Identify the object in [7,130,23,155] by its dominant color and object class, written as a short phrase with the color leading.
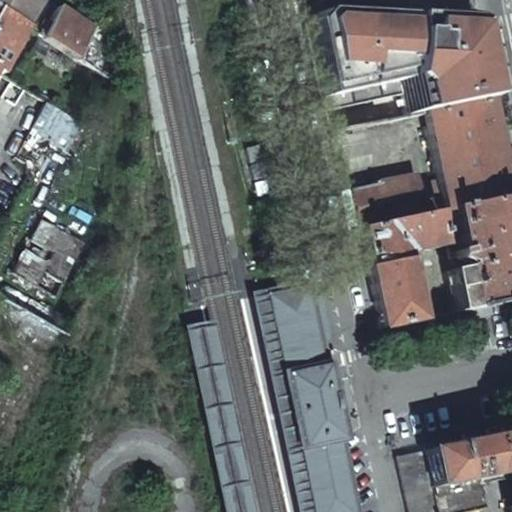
gray car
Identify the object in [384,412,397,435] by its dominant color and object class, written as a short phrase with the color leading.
white vehicle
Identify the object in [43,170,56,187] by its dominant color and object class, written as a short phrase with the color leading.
white vehicle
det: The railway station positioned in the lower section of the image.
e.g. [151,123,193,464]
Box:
[269,284,364,512]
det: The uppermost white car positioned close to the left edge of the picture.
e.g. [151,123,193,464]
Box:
[20,106,36,130]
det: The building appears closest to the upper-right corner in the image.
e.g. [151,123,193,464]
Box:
[423,8,512,107]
